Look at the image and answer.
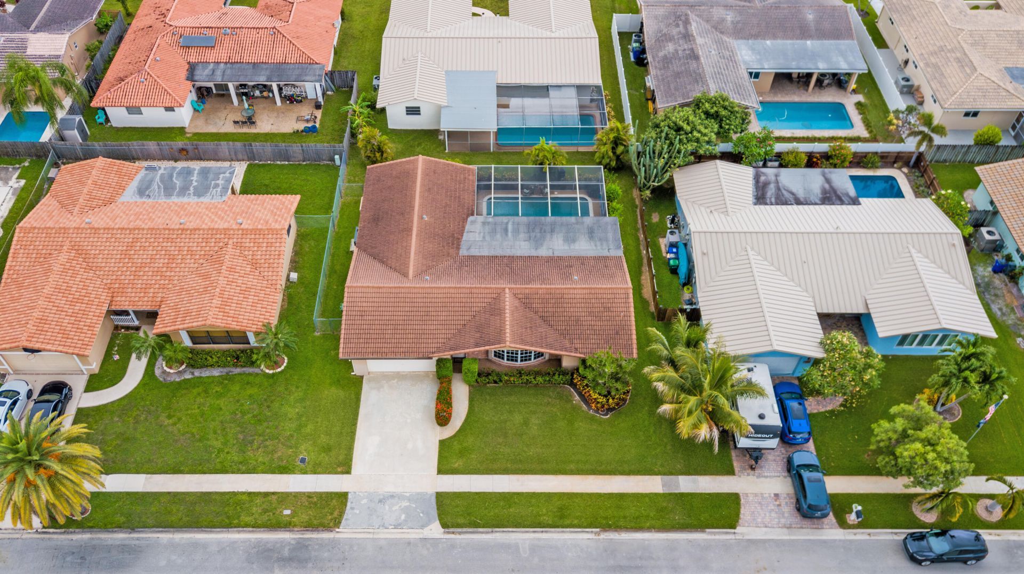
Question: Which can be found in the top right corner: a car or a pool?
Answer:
pool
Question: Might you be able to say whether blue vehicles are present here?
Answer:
Yes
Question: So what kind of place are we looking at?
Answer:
residential area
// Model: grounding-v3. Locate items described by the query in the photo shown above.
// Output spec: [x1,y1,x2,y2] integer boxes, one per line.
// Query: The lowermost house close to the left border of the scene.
[0,155,305,375]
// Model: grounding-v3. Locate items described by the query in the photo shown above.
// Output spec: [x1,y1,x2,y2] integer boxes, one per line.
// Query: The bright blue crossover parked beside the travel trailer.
[775,381,815,446]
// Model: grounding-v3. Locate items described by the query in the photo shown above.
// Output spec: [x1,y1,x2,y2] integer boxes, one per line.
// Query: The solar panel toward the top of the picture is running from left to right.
[179,34,215,46]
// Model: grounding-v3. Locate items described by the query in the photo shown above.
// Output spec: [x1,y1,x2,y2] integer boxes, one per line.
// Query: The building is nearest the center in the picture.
[337,154,639,377]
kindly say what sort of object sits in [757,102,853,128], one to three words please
swimming pool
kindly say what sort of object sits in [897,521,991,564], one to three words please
car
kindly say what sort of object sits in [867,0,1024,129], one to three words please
house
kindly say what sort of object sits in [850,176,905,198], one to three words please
swimming pool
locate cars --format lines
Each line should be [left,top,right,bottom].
[897,521,991,564]
[782,452,830,523]
[0,378,44,448]
[775,381,815,446]
[33,380,84,441]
